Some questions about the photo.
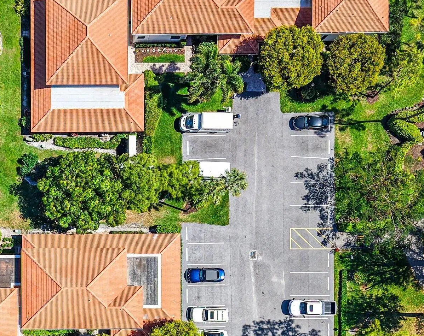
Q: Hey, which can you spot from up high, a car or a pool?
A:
car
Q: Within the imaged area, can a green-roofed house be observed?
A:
No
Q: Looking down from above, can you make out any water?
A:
No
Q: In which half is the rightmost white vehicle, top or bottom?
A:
bottom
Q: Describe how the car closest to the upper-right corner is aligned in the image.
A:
horizontally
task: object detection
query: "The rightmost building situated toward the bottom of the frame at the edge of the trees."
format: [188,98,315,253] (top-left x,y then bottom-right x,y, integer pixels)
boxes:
[21,233,181,336]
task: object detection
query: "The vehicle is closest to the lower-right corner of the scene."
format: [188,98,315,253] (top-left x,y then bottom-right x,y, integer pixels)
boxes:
[287,298,338,317]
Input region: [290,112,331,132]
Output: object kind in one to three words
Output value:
car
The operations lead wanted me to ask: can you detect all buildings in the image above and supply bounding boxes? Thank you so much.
[131,0,390,58]
[30,0,144,133]
[21,233,181,336]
